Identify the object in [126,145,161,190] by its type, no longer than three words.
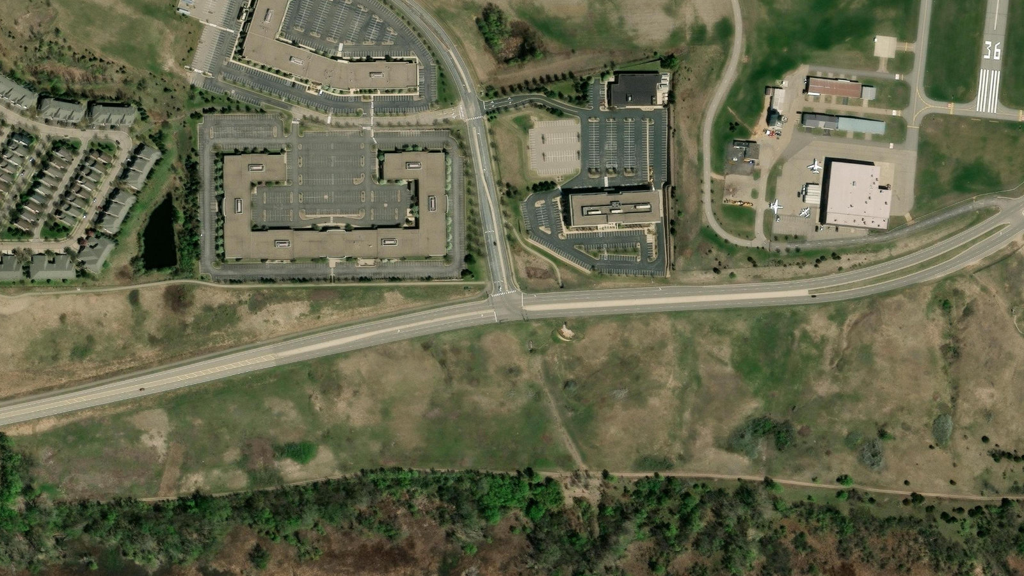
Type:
house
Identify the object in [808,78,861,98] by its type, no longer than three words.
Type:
shed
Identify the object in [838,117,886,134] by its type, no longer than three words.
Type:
shed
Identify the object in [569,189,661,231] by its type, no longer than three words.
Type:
building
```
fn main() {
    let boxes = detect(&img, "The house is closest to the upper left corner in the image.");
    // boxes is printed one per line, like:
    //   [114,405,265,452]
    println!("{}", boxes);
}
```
[0,73,37,109]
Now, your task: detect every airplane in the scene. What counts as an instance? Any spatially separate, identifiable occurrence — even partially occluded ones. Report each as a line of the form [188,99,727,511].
[769,199,782,214]
[807,159,822,173]
[801,208,810,217]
